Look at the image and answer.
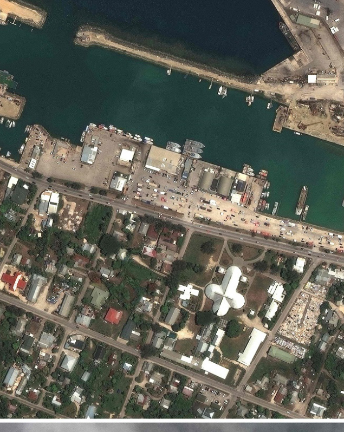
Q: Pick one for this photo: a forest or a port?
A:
port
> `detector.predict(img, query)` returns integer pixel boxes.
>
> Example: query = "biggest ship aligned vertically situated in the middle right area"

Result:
[294,186,307,215]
